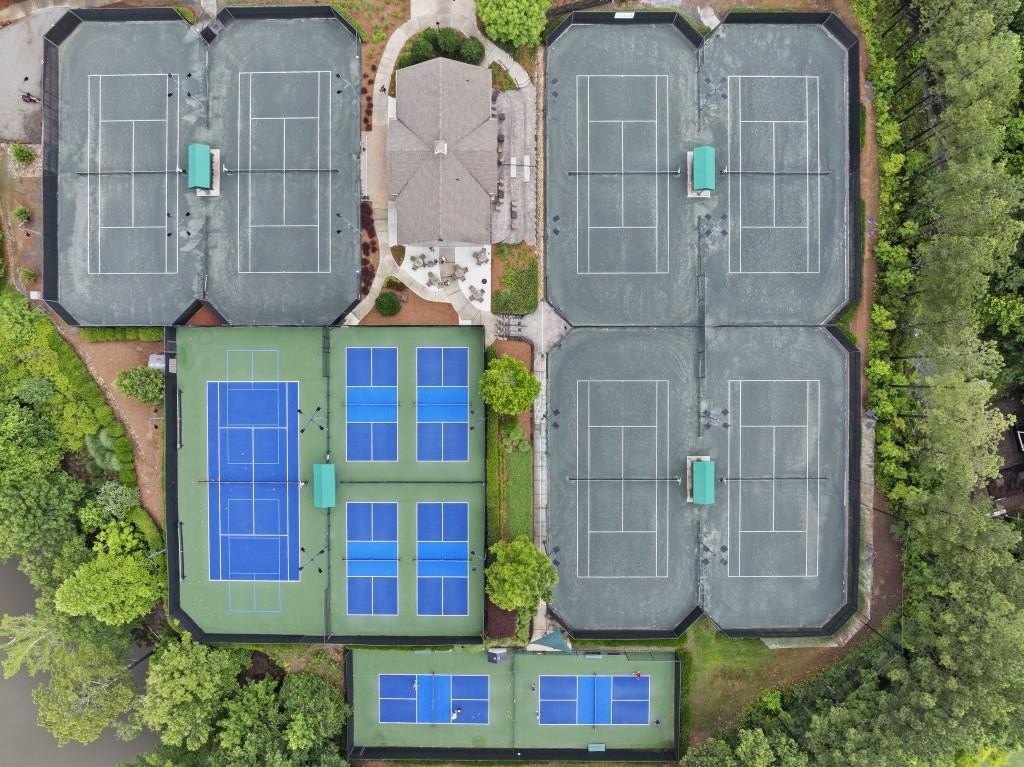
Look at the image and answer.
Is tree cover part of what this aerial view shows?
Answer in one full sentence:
Yes, there's tree cover in this view.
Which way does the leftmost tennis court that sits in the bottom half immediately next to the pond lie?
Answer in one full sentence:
What the image shows is the leftmost tennis court that sits in the bottom half immediately next to the pond lying from top to bottom.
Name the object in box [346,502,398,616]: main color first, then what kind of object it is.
blue sports court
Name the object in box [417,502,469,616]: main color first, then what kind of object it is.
blue sports court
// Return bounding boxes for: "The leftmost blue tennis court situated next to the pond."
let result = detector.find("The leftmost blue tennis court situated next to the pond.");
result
[206,350,300,612]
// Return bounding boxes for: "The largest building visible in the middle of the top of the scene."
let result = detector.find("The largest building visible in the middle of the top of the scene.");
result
[387,57,497,249]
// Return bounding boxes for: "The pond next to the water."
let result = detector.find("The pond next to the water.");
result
[0,551,155,767]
